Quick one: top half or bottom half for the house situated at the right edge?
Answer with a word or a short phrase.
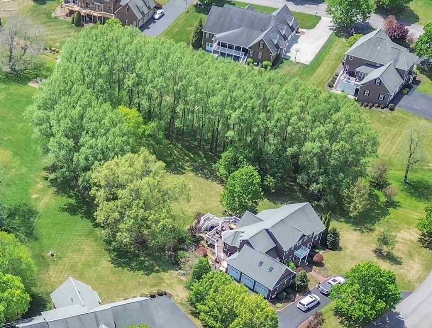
top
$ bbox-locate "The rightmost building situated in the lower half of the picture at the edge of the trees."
[198,203,323,299]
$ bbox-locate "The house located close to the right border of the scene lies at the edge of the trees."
[334,24,422,107]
